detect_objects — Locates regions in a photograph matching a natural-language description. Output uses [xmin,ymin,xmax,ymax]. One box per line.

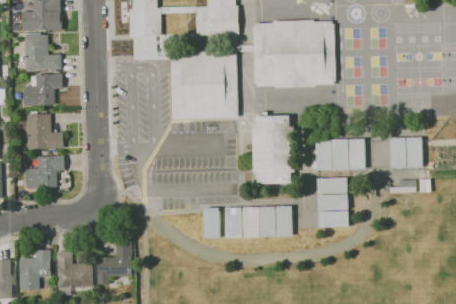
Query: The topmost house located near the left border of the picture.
[20,0,62,32]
